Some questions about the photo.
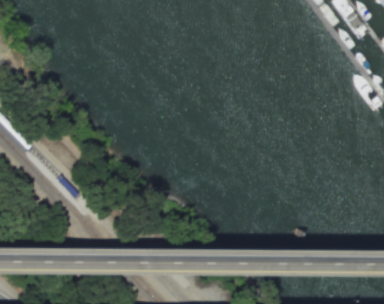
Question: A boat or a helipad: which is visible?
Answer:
boat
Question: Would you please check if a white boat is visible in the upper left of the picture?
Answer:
No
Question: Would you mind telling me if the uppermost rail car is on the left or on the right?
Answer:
left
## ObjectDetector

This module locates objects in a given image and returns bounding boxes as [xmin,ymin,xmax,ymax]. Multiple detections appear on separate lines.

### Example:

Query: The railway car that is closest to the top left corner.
[0,114,33,151]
